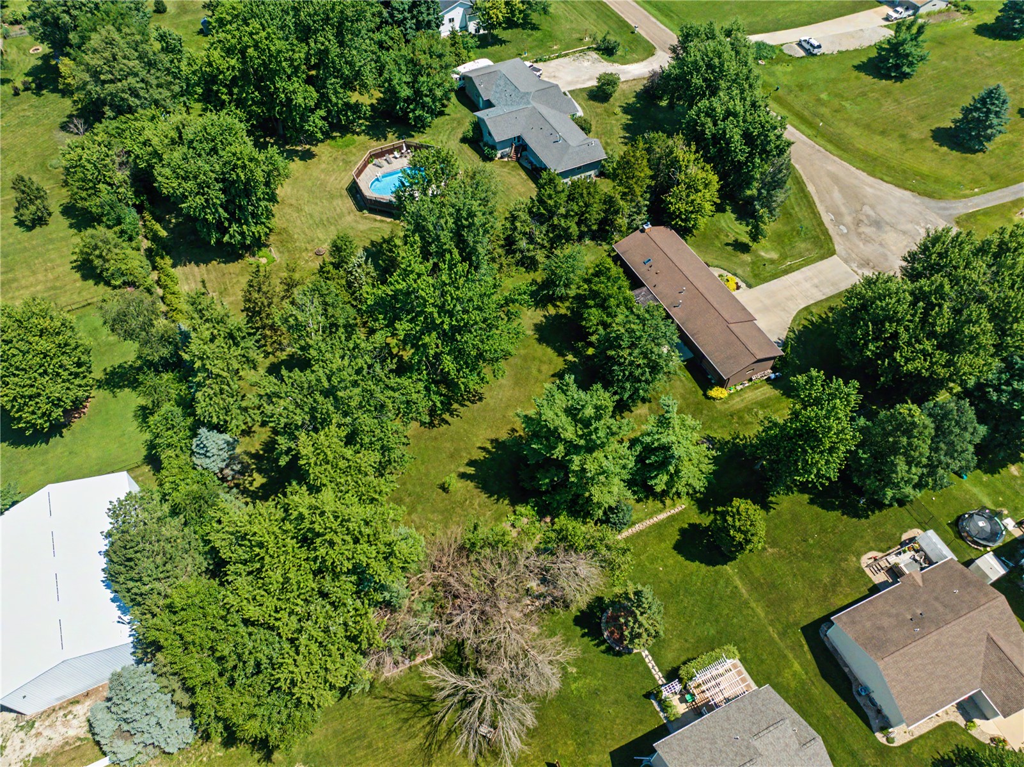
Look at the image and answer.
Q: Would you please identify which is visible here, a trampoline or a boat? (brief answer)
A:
trampoline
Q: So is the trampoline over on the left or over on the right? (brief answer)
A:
right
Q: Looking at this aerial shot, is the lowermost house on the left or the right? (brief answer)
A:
right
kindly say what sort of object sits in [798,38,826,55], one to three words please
car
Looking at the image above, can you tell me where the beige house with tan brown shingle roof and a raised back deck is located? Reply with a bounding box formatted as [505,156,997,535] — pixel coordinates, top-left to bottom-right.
[825,558,1024,731]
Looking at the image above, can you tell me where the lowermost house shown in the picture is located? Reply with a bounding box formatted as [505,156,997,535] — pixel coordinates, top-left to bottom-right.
[652,683,833,767]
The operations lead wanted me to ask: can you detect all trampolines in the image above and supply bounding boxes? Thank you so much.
[955,503,1013,552]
